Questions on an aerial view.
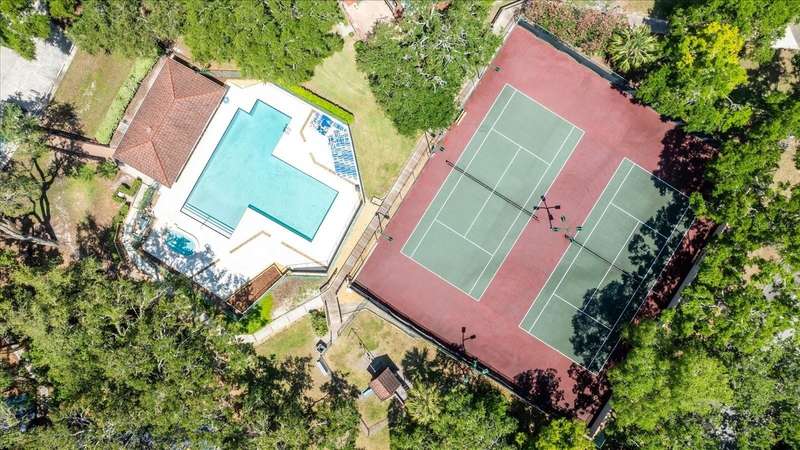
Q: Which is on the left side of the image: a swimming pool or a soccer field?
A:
swimming pool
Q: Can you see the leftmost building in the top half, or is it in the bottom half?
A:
top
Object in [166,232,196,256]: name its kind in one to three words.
swimming pool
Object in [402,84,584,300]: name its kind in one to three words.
tennis court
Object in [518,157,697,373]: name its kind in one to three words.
tennis court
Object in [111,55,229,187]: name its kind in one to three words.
building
